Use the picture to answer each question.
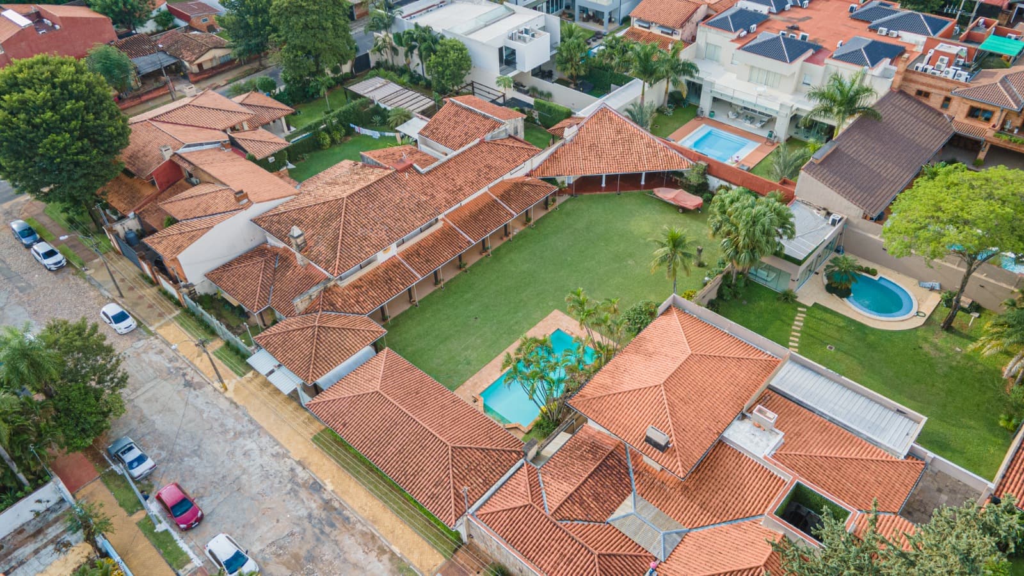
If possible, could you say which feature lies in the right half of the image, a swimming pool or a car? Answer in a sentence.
It is a swimming pool that can be seen in the right half of the image.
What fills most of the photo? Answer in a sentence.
Most of the picture is covered by buildings.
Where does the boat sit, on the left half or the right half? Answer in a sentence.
The boat sits on the right side.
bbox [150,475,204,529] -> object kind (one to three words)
car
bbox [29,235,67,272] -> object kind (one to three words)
car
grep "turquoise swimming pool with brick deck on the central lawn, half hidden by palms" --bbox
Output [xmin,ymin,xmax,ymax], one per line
[454,310,623,441]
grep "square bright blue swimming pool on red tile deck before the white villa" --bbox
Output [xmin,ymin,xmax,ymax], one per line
[664,115,782,169]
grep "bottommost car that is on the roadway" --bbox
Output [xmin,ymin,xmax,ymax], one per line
[203,526,262,576]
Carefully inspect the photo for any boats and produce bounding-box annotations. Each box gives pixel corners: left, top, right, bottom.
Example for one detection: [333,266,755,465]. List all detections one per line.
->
[643,192,701,215]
